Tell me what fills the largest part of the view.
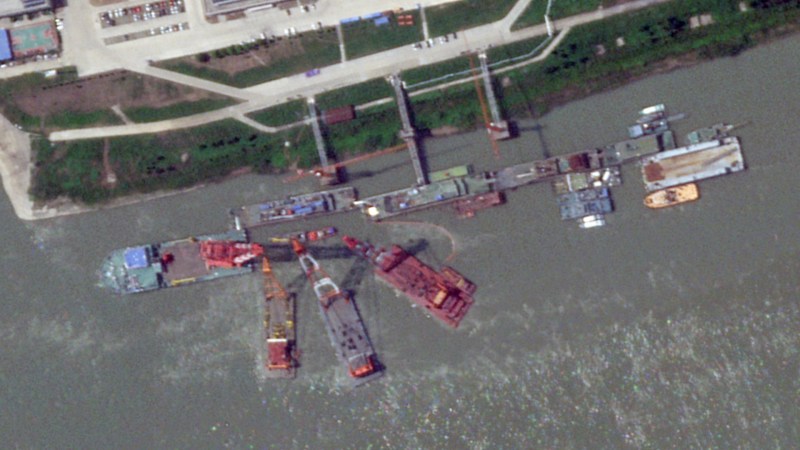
water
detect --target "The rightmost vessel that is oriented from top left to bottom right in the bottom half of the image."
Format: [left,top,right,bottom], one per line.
[441,266,476,295]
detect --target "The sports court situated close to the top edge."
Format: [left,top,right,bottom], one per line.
[11,21,60,61]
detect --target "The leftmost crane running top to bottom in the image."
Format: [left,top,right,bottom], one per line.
[263,256,299,377]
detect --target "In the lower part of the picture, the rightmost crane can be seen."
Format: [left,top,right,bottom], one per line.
[292,239,381,381]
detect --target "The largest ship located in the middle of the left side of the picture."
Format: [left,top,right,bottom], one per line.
[96,230,262,290]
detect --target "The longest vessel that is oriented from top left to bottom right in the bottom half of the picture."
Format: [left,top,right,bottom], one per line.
[341,236,474,326]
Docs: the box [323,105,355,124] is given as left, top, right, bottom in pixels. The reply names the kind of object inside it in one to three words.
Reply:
building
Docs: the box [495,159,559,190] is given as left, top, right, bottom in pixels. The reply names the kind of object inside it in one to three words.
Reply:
ship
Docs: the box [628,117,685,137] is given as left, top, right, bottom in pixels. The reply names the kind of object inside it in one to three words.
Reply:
boat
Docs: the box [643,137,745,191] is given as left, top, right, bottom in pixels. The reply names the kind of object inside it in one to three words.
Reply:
ship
